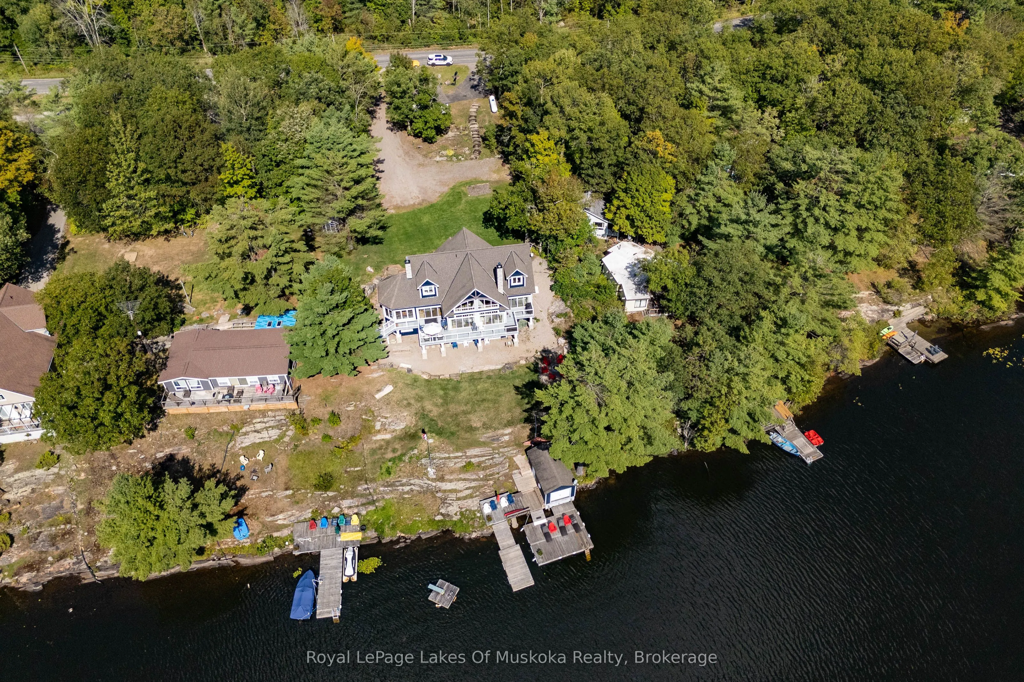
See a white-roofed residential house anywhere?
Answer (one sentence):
Yes, there's a white-roofed residential house down there.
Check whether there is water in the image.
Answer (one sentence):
Yes, the picture does contain water.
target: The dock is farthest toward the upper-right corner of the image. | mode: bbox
[887,308,948,366]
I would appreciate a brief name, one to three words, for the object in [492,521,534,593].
pier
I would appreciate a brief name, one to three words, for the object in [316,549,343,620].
pier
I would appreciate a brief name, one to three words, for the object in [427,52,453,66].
car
